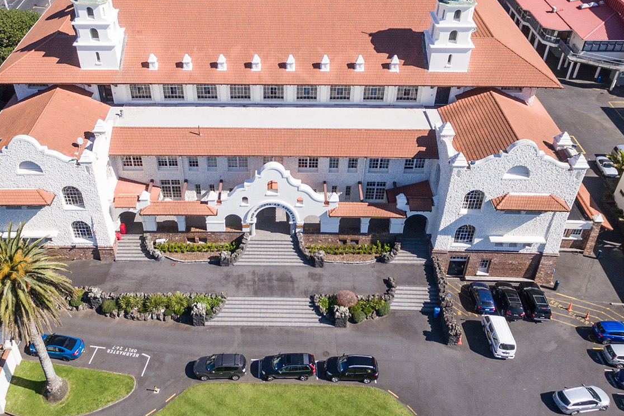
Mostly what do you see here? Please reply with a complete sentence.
Most of the picture is covered by buildings.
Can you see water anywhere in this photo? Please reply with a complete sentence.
No, the scene doesn't show any water.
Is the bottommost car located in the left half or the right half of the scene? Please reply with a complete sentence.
The bottommost car sits on the right side.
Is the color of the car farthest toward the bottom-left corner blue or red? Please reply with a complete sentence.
The car farthest toward the bottom-left corner is blue.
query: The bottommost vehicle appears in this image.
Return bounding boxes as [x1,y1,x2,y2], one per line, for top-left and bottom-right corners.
[557,384,614,416]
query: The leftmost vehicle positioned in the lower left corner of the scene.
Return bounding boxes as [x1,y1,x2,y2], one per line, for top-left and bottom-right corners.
[36,334,83,366]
